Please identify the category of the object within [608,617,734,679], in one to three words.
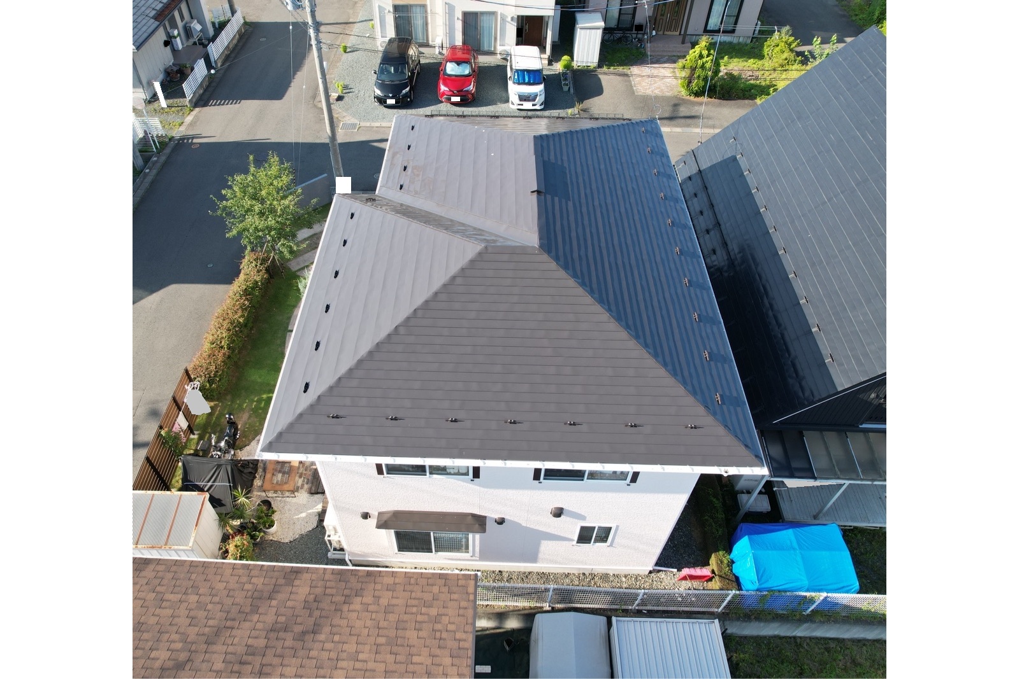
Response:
shed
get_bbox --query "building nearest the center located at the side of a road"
[256,108,768,583]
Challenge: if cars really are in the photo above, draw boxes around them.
[369,34,418,106]
[434,46,480,105]
[506,45,550,109]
